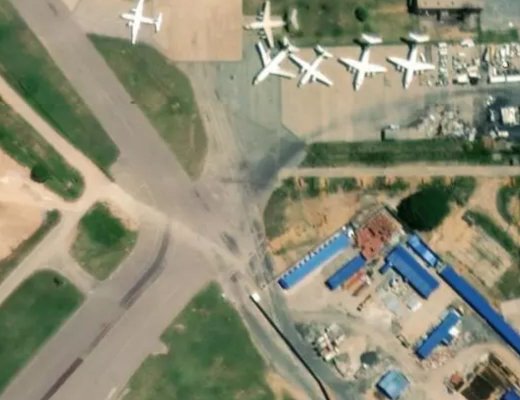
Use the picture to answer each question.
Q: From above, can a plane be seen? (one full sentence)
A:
Yes, you can see a plane in this photo.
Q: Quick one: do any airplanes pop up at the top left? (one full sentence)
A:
Yes, at the top left there is an airplane.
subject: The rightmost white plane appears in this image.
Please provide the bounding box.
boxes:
[389,33,436,89]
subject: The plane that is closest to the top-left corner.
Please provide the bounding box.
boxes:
[120,0,164,43]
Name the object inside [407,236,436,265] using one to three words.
shed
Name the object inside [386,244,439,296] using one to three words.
building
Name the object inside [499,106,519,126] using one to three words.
shed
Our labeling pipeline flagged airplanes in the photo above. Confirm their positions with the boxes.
[253,37,300,84]
[243,1,300,47]
[290,45,333,86]
[389,33,436,89]
[120,0,164,43]
[340,34,388,90]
